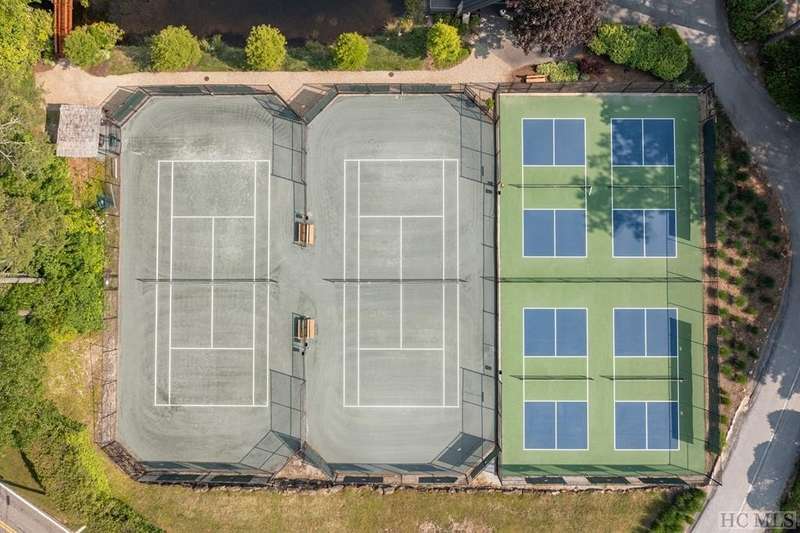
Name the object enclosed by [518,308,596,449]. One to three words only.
sports court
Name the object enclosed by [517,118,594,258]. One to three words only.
sports court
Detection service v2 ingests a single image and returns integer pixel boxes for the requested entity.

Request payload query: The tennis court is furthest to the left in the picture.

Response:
[116,95,305,473]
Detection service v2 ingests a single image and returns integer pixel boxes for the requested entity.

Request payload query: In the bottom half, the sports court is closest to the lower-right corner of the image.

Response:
[609,308,689,450]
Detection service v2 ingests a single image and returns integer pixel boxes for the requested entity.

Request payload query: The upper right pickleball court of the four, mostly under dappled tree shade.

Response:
[606,118,686,258]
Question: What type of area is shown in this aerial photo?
sports ground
